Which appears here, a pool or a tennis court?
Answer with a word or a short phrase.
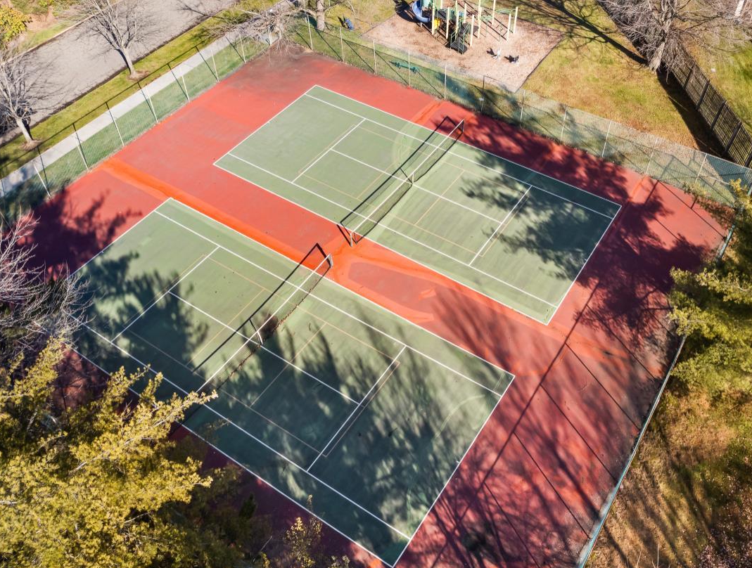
tennis court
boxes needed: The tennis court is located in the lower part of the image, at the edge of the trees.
[21,197,514,568]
